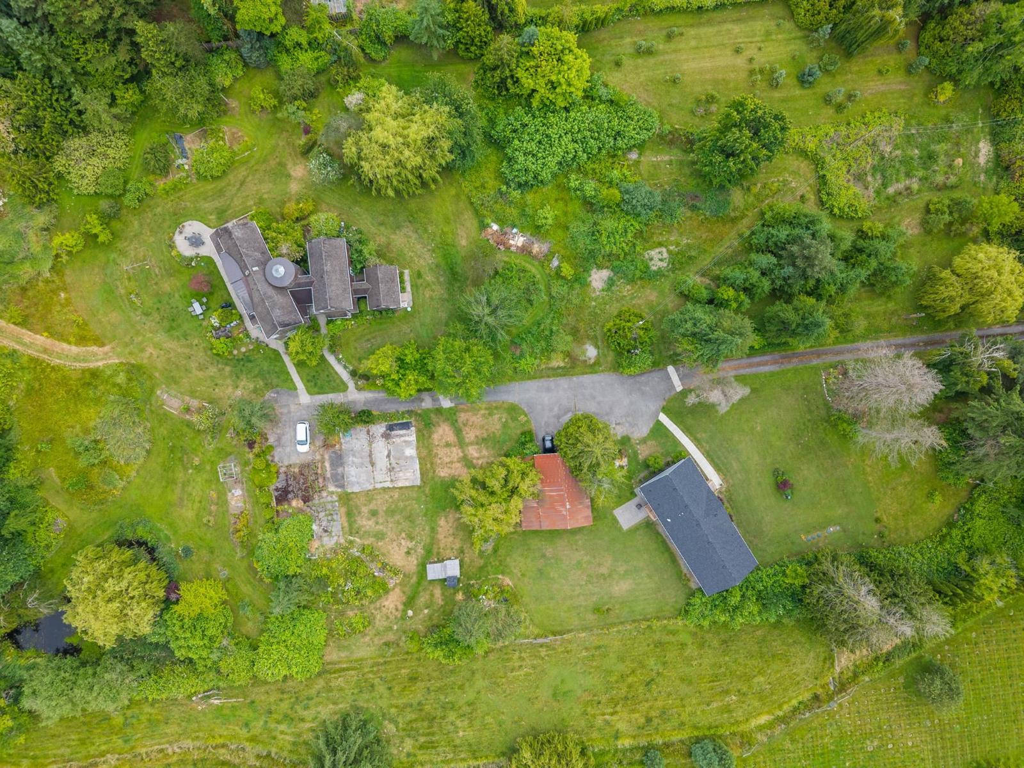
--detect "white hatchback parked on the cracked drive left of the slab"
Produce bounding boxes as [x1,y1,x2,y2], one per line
[293,422,309,453]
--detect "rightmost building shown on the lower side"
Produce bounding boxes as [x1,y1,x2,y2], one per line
[634,455,758,596]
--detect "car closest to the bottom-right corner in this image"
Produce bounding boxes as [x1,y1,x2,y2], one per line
[541,431,557,454]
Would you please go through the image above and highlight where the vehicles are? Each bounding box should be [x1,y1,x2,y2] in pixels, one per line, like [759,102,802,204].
[541,431,557,454]
[293,422,309,453]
